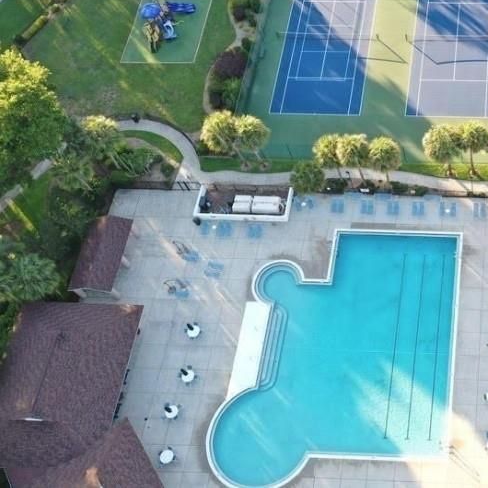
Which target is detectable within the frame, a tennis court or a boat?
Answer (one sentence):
I can see a tennis court in this picture.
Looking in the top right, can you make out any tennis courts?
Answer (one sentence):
Yes, the scene does show a tennis court in the top right.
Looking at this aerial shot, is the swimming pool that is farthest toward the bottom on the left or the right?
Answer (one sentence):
The swimming pool that is farthest toward the bottom is on the right side of the image.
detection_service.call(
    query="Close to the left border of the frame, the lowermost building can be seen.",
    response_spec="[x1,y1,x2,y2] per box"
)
[0,300,171,488]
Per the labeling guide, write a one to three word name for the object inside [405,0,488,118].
tennis court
